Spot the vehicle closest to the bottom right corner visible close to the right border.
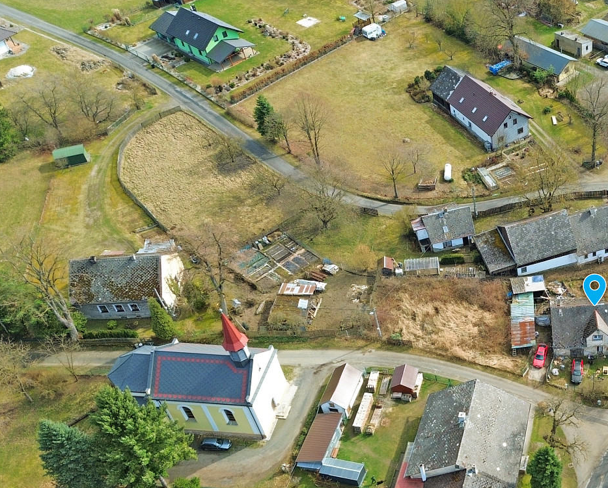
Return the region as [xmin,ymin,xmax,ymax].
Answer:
[571,356,584,382]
